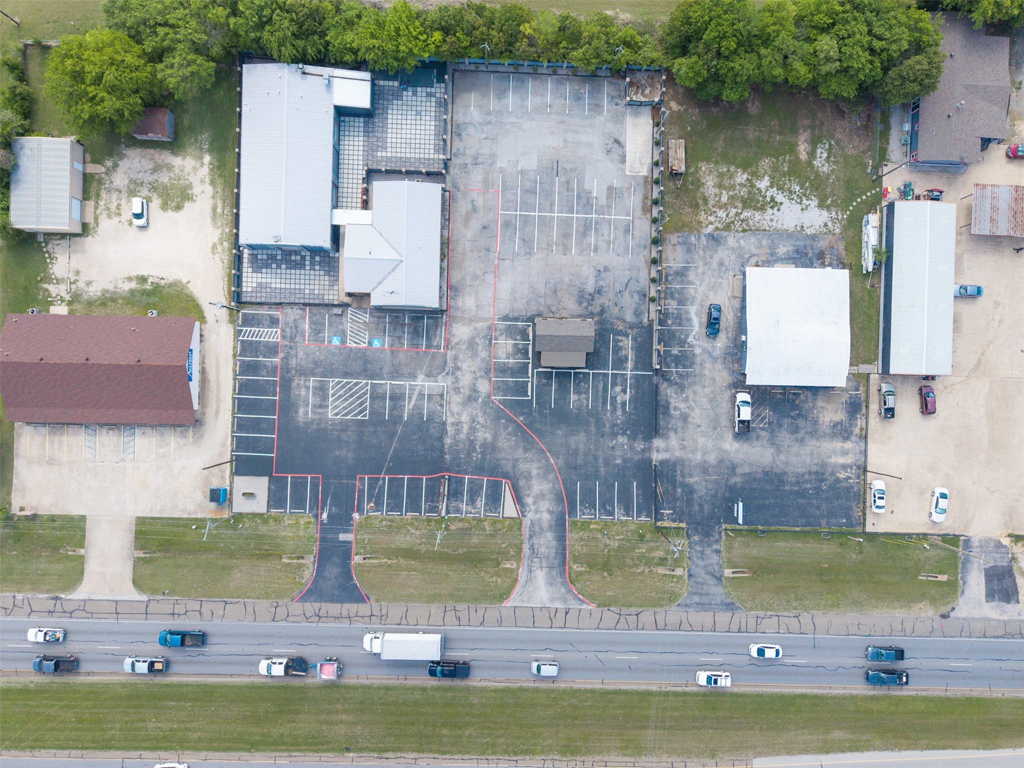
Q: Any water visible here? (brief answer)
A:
No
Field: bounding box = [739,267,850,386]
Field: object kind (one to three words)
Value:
building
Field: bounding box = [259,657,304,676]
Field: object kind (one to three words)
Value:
vehicle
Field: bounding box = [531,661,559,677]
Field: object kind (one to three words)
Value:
car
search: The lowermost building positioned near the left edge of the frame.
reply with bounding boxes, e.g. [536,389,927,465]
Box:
[0,314,200,424]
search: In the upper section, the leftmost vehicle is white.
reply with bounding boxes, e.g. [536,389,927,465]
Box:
[132,198,149,227]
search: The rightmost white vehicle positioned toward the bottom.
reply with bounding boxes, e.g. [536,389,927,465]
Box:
[929,488,948,522]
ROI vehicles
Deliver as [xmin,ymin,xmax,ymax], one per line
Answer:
[870,480,887,514]
[1006,143,1024,160]
[706,303,722,337]
[363,636,443,662]
[735,392,753,434]
[865,645,905,662]
[919,385,937,416]
[428,660,470,678]
[696,670,732,688]
[929,488,948,522]
[865,668,909,686]
[954,283,985,299]
[32,656,79,674]
[749,643,783,660]
[157,629,206,648]
[531,661,559,677]
[153,760,188,768]
[123,657,169,675]
[26,627,67,645]
[878,382,896,420]
[259,657,304,676]
[132,198,149,227]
